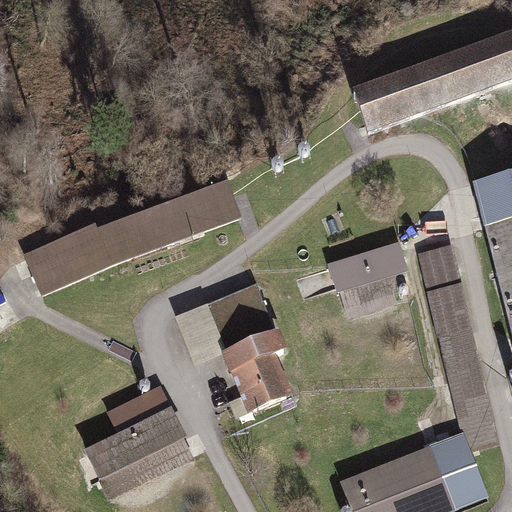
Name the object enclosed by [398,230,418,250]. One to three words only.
work vehicle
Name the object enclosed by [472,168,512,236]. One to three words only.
barn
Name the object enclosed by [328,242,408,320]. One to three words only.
house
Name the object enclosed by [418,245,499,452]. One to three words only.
shed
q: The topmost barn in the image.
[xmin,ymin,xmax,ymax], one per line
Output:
[353,29,512,137]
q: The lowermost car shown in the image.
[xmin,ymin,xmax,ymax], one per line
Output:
[208,382,226,410]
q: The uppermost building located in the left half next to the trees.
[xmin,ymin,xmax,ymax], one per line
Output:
[24,180,242,298]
